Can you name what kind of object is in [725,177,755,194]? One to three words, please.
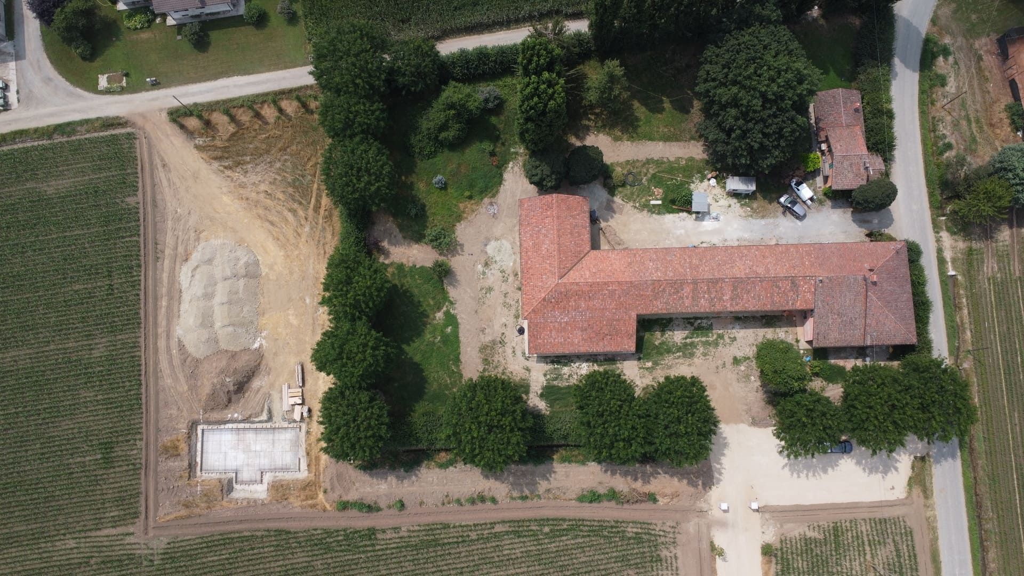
shed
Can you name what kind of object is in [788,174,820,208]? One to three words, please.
truck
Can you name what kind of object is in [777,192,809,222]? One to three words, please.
car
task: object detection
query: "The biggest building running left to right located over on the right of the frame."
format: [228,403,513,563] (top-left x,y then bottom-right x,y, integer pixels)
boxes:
[519,193,917,356]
